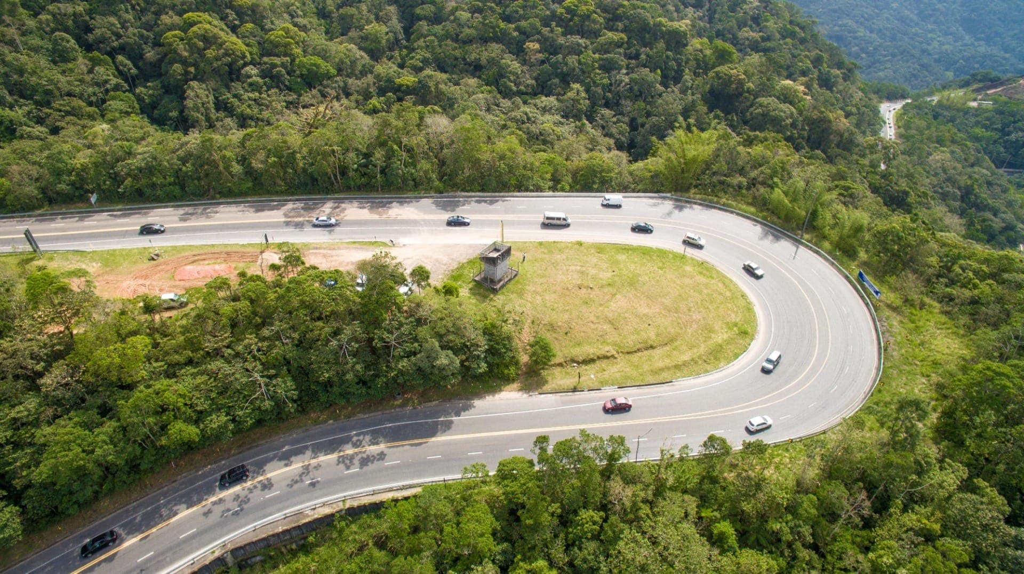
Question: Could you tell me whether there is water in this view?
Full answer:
No, the picture contains no water.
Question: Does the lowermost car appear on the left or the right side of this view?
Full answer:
The lowermost car is on the left side of the image.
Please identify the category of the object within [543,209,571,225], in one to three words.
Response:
vehicle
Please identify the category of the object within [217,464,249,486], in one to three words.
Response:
car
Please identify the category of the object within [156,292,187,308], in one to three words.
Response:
car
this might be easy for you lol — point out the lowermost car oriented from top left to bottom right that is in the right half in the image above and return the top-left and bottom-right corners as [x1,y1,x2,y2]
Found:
[743,261,764,277]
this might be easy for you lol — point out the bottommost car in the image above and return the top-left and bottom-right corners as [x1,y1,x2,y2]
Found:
[79,531,117,558]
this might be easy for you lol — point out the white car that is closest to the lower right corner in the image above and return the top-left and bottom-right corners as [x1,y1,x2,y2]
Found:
[746,416,774,432]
